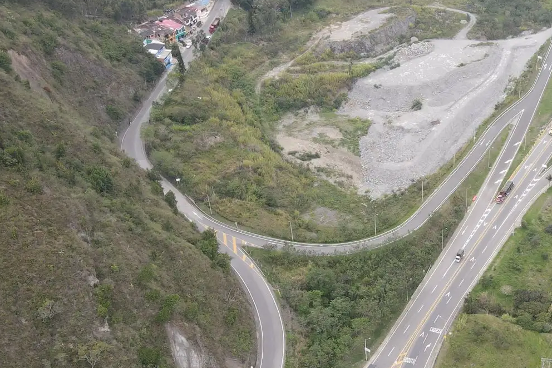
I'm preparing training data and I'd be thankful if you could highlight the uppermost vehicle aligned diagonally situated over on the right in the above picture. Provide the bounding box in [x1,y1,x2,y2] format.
[496,179,513,203]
